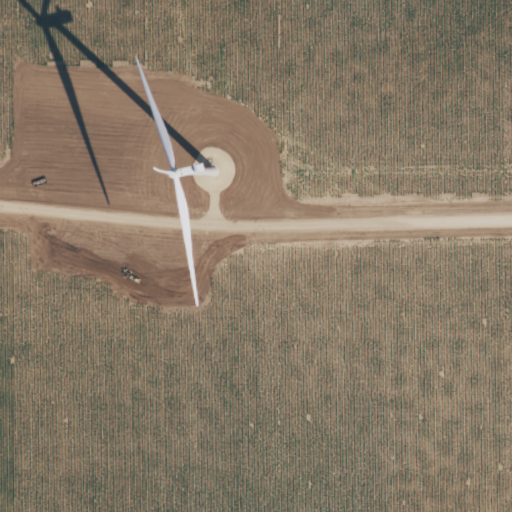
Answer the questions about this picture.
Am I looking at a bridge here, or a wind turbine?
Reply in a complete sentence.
There is a wind turbine in the scene.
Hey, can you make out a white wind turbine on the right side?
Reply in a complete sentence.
No, no white wind turbine is visible on the right side.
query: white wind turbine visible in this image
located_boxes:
[134,56,220,305]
